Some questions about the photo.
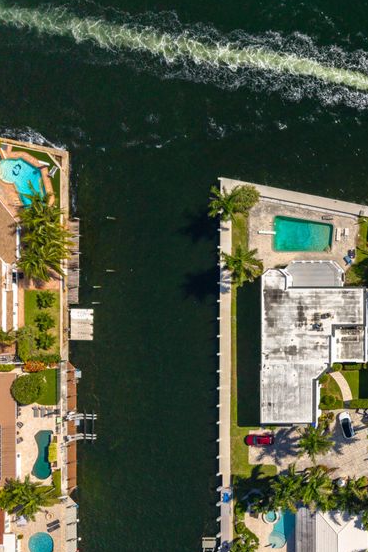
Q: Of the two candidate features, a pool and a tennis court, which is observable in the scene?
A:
pool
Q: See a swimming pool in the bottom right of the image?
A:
Yes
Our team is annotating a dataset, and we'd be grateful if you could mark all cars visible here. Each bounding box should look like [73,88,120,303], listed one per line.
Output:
[337,410,354,440]
[244,433,272,448]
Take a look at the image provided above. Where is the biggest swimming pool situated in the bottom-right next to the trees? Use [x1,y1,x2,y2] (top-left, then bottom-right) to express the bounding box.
[267,505,296,549]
